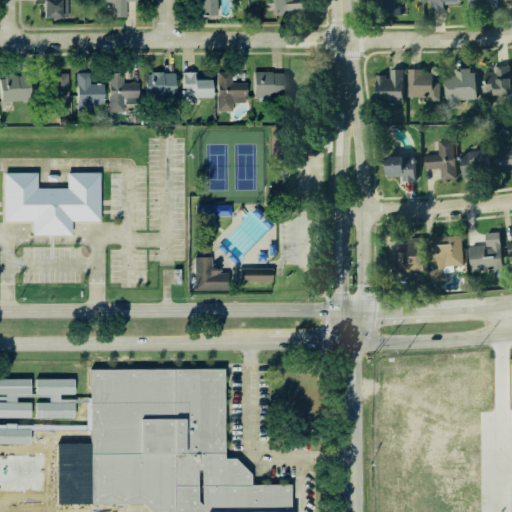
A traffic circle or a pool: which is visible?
pool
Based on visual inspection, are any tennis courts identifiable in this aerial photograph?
Yes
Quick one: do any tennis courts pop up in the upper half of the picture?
Yes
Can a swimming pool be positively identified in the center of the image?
Yes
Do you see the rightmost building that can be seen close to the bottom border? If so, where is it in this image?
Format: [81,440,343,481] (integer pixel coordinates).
[91,368,294,512]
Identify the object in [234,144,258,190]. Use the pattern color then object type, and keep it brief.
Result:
blue tennis court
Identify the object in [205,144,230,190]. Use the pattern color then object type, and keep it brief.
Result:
blue tennis court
